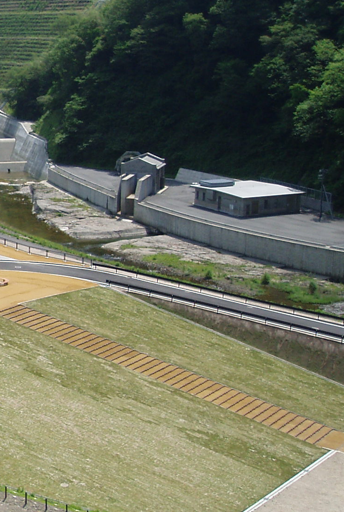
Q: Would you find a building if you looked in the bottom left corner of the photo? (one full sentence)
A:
No, I can find no building in the bottom left corner of the photo.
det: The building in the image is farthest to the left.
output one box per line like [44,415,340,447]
[107,152,170,229]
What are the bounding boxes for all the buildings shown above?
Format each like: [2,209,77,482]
[107,152,170,229]
[188,181,311,217]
